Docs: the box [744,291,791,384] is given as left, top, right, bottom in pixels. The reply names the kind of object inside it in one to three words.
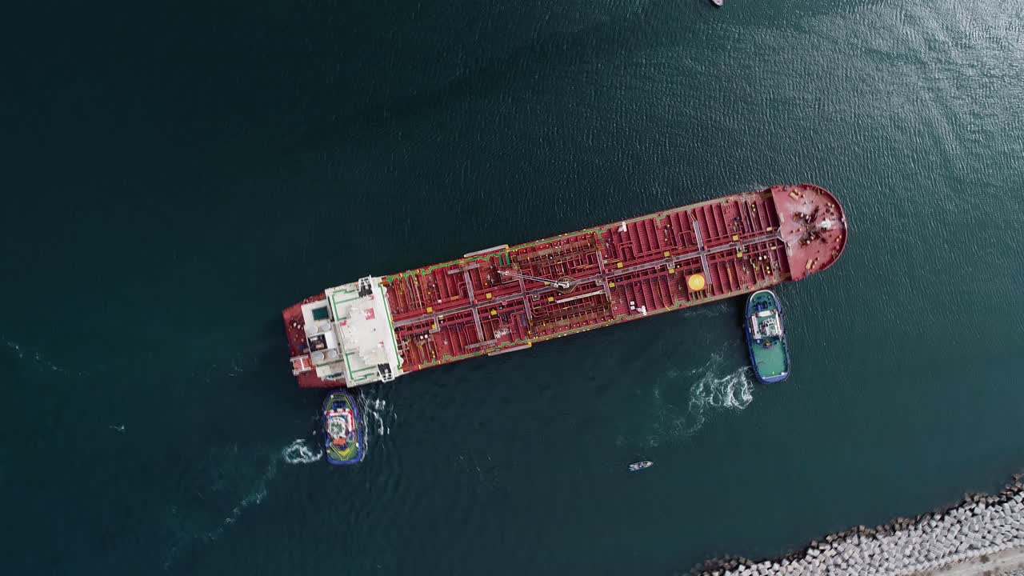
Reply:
boat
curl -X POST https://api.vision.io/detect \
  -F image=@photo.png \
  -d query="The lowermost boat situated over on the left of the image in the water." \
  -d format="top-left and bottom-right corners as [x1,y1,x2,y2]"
[322,388,366,466]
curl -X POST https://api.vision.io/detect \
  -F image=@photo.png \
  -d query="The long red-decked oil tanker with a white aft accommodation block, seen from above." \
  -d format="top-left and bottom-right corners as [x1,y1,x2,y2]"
[284,184,846,390]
